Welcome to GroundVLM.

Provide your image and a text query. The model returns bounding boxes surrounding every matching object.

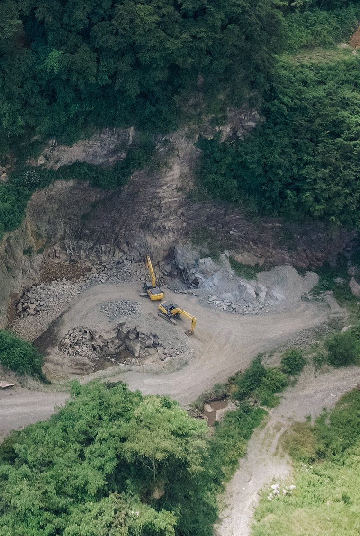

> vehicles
[155,300,200,332]
[134,247,164,300]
